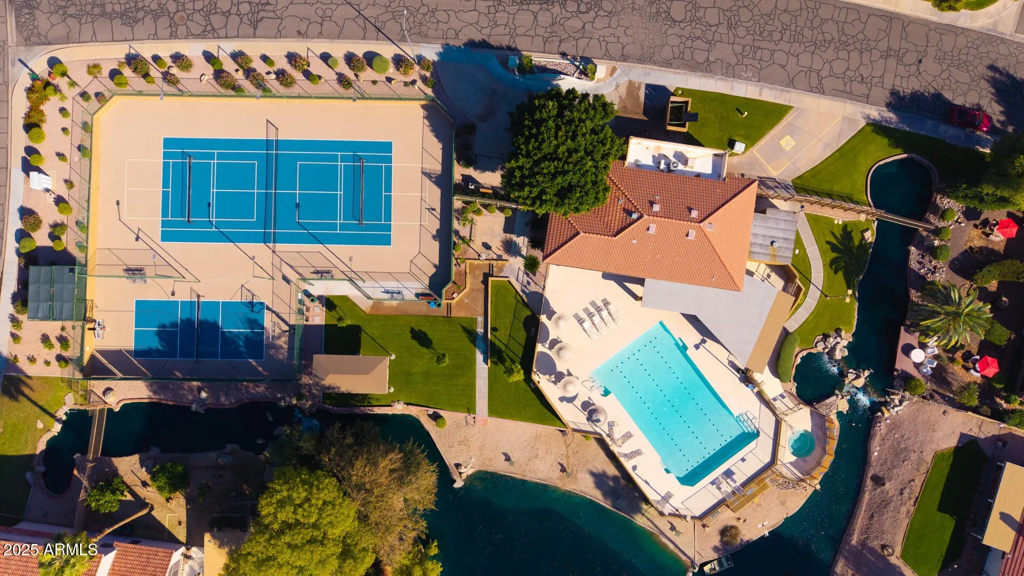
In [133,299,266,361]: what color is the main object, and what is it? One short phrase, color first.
blue sports court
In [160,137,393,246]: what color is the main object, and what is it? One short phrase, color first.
blue tennis court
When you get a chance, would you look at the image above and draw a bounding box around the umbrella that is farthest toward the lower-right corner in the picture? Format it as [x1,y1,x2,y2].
[970,356,997,377]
